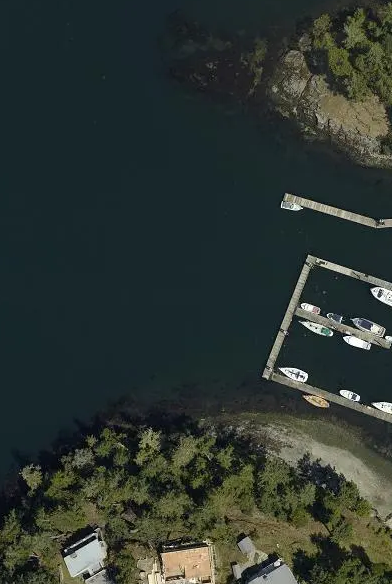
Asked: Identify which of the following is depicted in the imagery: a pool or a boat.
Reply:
boat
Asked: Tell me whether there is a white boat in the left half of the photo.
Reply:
No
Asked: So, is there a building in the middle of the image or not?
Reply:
No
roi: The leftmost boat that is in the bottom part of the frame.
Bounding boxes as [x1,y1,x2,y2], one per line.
[279,368,308,386]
